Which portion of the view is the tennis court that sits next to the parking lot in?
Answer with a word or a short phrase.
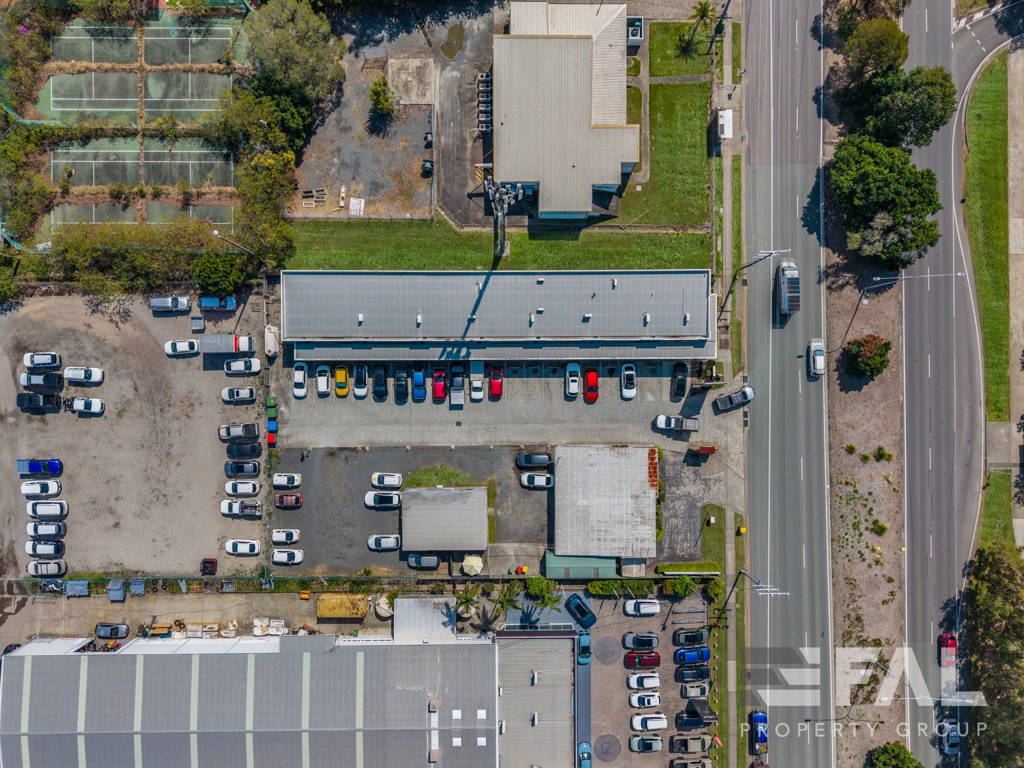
top left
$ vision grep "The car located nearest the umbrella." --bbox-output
[407,552,442,570]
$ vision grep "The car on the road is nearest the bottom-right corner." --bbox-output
[940,718,961,755]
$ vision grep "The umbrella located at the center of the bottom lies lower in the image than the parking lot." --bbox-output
[462,554,484,576]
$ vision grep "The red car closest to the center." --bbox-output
[488,365,505,400]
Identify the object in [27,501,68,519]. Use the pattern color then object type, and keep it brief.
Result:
white car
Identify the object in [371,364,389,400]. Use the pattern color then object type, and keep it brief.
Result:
black car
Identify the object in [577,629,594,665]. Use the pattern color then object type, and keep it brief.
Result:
blue car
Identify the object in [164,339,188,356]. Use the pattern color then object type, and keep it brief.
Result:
white car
